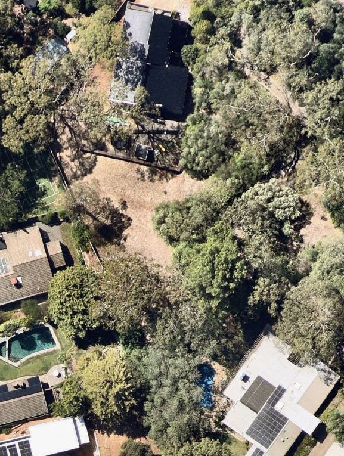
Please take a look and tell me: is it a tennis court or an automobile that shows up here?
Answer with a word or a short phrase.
tennis court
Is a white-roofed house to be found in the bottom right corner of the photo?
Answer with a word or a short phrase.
Yes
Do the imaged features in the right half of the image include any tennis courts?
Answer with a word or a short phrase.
No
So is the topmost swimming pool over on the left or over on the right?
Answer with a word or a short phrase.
left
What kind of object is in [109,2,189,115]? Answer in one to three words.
house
